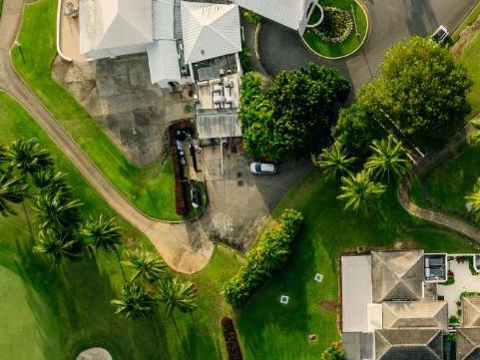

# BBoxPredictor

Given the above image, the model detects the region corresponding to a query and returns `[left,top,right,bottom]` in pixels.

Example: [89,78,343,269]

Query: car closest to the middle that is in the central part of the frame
[251,160,277,174]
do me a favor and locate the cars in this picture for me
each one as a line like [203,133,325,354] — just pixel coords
[438,24,452,38]
[251,160,277,174]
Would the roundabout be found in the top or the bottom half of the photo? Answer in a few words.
top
